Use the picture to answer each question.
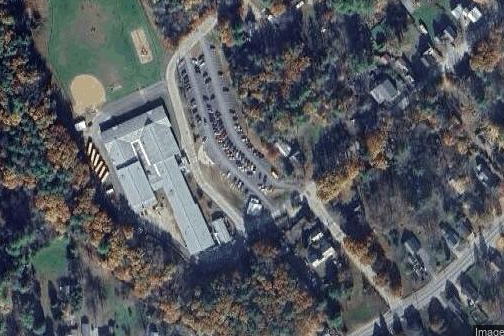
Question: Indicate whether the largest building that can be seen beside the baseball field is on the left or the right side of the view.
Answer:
left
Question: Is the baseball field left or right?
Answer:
left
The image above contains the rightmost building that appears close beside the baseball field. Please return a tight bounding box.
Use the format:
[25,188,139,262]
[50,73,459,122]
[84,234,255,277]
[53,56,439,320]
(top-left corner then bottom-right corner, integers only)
[101,105,215,255]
